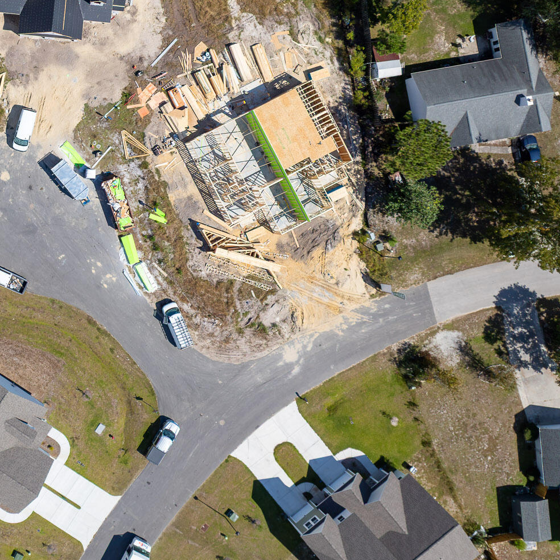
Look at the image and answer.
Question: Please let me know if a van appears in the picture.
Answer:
Yes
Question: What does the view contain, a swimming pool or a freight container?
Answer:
freight container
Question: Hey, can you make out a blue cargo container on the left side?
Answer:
No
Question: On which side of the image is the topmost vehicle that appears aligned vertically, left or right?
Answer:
left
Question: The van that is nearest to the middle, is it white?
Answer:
Yes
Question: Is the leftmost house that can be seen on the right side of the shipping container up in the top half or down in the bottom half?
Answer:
top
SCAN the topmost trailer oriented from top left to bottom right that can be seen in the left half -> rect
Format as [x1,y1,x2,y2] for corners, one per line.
[41,151,89,201]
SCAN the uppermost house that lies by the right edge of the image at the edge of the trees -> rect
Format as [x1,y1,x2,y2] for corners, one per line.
[401,20,553,151]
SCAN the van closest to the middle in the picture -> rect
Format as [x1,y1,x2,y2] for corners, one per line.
[162,300,196,351]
